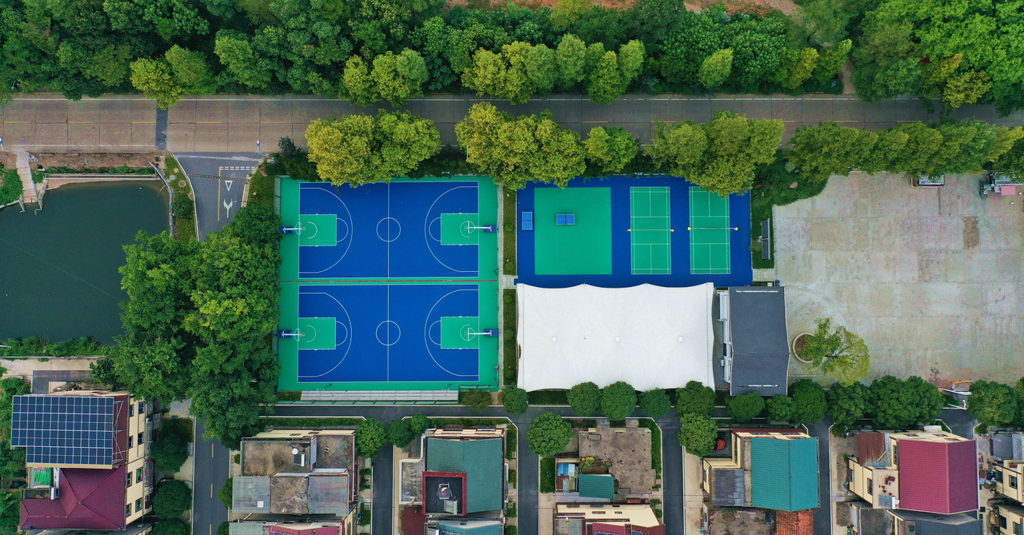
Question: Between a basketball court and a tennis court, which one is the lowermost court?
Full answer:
Specifically, the lowermost court is a basketball court.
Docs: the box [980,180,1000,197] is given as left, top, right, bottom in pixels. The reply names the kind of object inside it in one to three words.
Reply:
work vehicle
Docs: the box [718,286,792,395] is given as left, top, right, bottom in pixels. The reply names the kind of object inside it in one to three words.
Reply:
building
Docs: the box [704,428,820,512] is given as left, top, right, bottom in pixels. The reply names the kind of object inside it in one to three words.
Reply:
house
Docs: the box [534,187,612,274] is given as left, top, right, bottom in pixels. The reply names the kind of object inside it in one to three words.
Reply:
sports court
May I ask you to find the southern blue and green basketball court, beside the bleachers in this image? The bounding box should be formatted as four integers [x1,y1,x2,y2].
[277,281,498,391]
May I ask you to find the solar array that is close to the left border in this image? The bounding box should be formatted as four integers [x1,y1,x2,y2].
[10,397,128,464]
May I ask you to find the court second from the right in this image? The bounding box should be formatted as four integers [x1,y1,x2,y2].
[631,187,671,274]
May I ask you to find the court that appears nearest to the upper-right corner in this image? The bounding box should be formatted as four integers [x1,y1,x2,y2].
[690,187,730,274]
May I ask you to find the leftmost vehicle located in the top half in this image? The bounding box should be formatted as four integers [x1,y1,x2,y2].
[910,174,945,187]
